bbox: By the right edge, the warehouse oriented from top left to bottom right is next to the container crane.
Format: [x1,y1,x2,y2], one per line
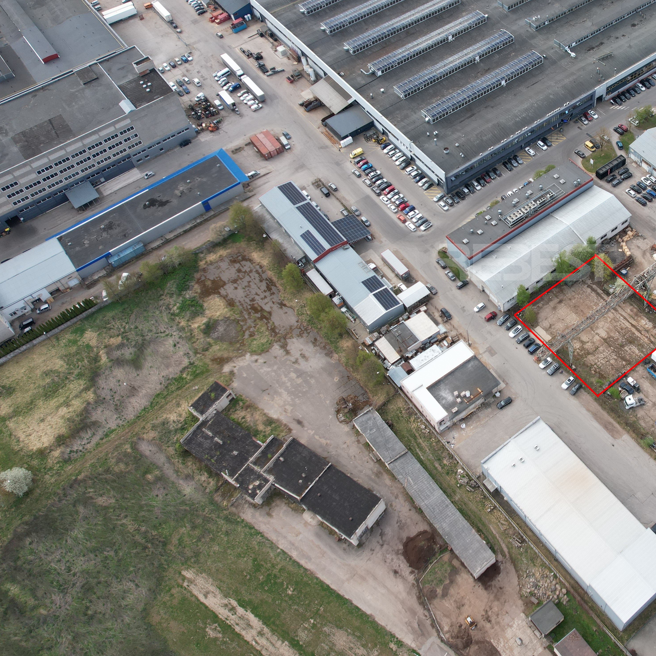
[480,415,656,633]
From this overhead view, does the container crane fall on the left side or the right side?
right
